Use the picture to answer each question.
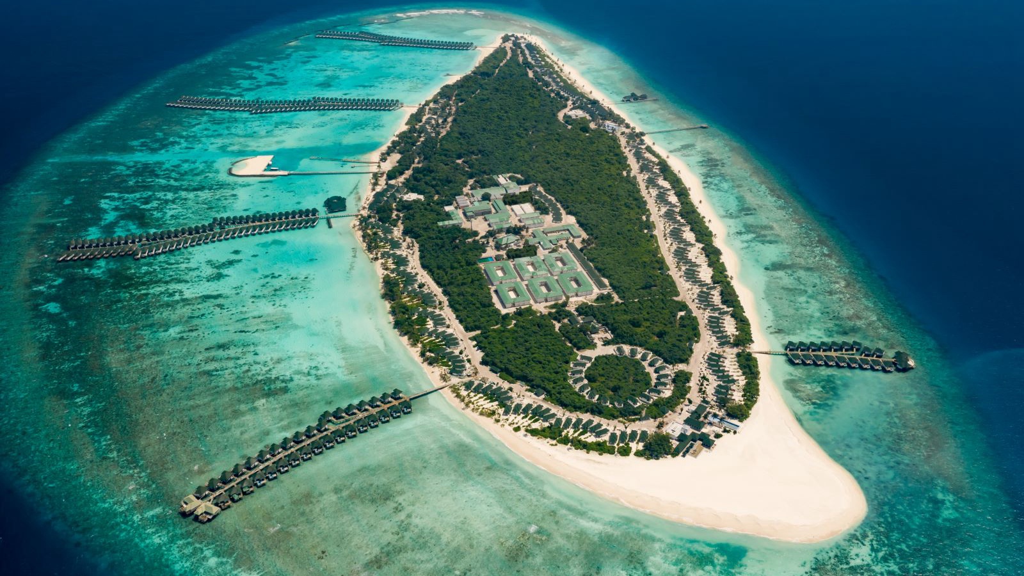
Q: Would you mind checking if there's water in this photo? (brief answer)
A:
Yes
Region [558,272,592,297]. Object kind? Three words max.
building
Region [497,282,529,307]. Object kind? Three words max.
building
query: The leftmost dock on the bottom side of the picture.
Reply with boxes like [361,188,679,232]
[203,381,450,501]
